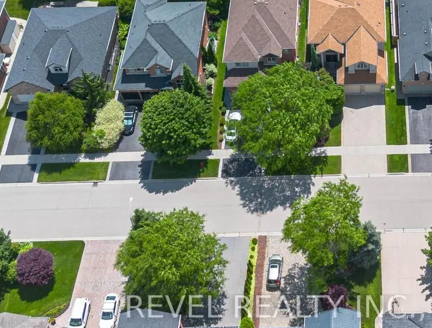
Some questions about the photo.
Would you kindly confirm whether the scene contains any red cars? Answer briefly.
No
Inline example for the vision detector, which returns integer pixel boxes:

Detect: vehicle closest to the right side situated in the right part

[266,253,284,292]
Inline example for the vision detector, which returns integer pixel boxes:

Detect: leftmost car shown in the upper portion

[122,106,139,138]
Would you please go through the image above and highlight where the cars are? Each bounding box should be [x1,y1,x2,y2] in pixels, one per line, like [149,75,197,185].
[66,290,91,328]
[266,253,284,292]
[225,113,241,142]
[98,292,121,328]
[122,106,139,138]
